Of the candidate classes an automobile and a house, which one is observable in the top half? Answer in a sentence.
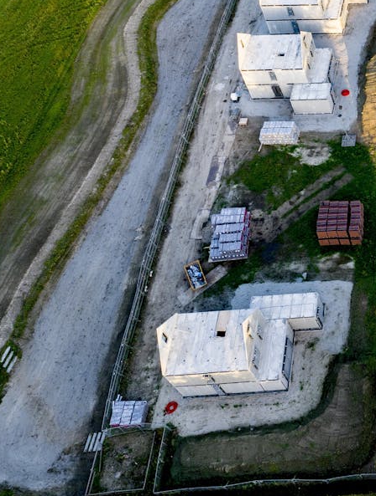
Looking in the top half, you will find a house.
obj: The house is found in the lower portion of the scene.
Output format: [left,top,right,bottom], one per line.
[161,290,323,398]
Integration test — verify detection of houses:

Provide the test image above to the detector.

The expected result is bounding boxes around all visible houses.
[161,290,323,398]
[241,35,339,114]
[260,0,368,33]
